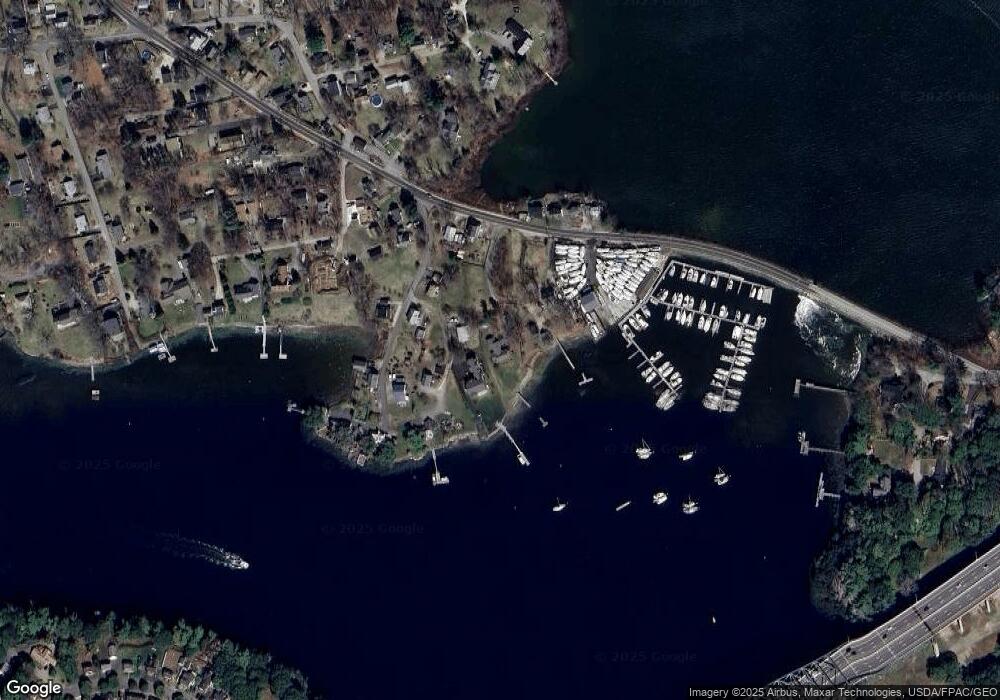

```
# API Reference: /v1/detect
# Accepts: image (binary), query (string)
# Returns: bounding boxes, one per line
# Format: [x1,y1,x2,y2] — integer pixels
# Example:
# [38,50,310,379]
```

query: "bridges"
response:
[732,540,1000,700]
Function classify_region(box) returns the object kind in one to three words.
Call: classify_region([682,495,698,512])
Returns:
boat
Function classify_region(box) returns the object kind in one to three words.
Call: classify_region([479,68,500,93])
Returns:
house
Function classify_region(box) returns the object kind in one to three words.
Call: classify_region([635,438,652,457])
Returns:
boat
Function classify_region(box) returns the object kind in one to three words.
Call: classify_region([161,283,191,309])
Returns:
house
